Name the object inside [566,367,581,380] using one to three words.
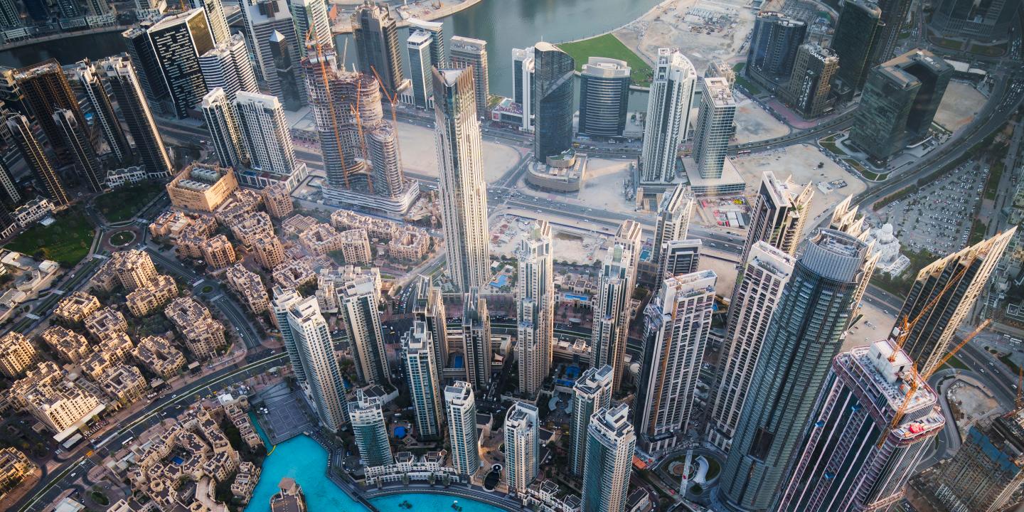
swimming pool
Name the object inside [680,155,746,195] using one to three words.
building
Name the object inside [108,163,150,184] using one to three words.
building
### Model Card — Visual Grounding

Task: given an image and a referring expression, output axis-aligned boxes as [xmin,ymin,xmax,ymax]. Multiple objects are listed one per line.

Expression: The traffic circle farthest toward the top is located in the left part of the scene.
[94,220,150,256]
